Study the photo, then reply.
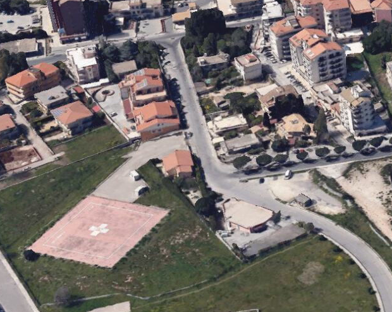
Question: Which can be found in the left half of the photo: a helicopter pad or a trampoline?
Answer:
helicopter pad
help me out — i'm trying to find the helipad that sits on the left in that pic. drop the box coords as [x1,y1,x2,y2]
[30,199,169,268]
